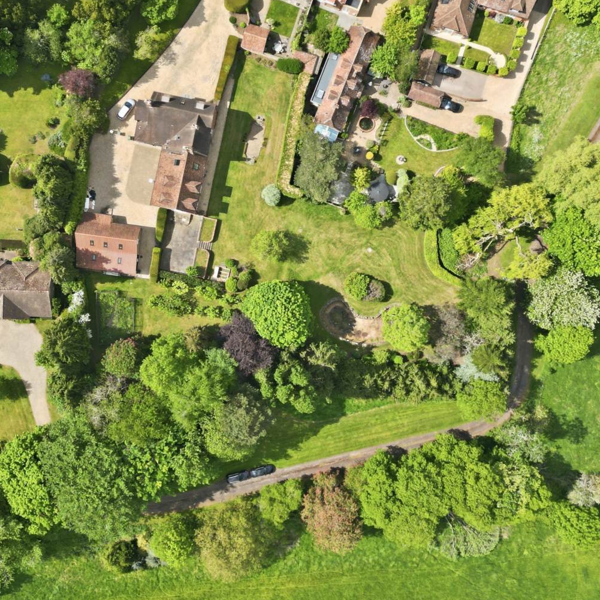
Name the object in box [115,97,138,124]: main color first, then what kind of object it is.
white car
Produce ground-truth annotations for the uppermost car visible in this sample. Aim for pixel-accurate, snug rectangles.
[435,64,462,81]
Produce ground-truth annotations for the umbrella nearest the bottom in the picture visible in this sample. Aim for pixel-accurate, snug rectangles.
[369,182,389,202]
